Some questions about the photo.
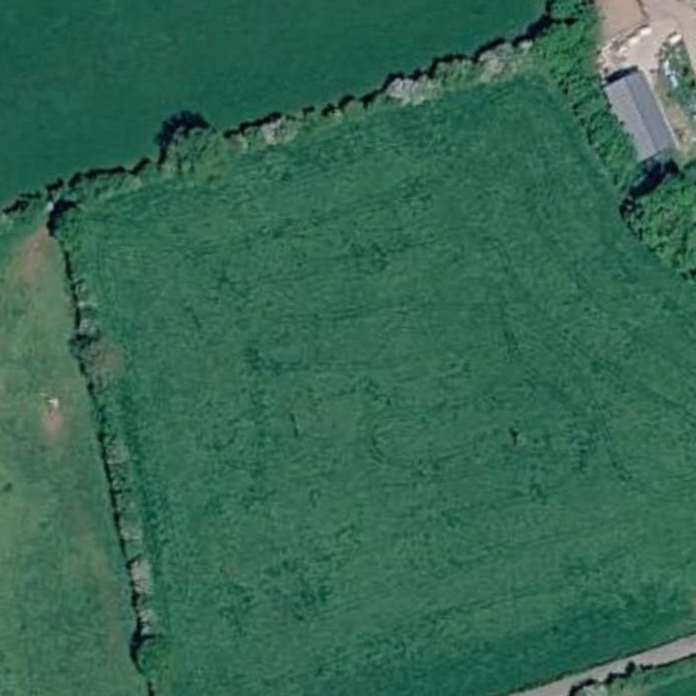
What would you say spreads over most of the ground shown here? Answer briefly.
grass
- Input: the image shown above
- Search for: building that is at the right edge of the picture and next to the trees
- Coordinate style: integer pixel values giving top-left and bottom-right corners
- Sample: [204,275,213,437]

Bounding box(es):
[603,69,675,163]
